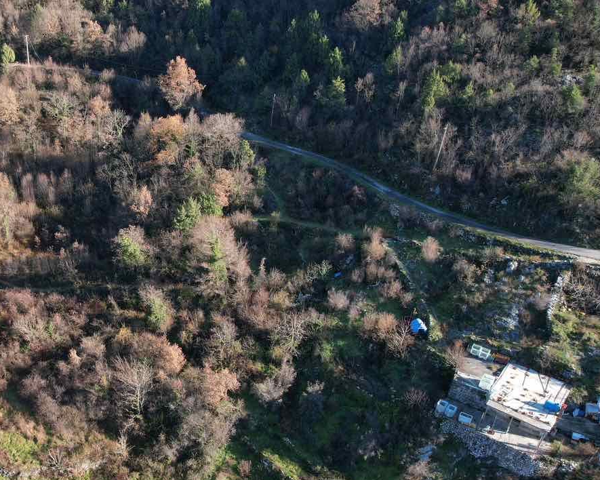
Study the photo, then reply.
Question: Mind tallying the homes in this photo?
1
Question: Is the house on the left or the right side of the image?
right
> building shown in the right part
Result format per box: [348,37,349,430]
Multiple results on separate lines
[478,363,572,455]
